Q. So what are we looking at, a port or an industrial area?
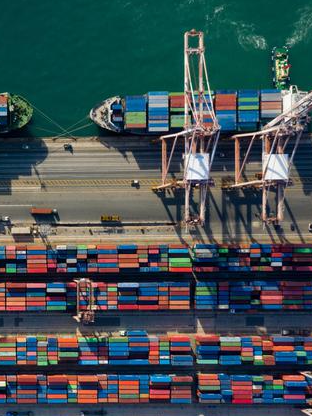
port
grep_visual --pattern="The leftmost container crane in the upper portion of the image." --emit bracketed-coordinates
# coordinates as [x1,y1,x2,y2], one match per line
[146,30,223,228]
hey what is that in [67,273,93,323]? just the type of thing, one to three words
crane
